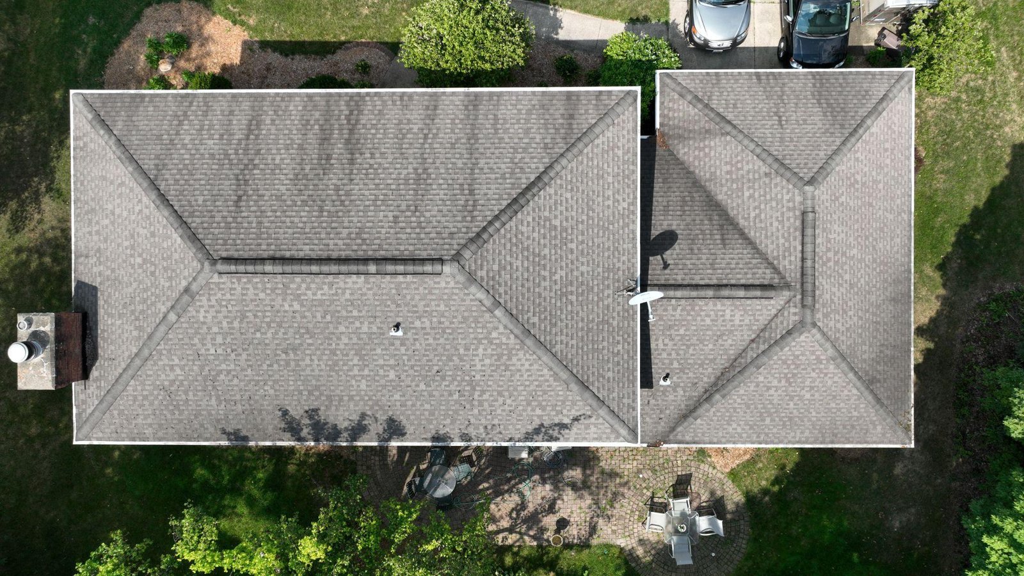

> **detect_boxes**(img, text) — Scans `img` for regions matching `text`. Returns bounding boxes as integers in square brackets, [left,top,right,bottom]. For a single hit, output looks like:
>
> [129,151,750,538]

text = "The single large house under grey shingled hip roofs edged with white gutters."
[10,68,915,447]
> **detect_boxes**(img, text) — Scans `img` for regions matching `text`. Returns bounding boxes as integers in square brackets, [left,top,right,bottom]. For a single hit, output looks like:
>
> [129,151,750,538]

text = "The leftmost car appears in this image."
[682,0,753,54]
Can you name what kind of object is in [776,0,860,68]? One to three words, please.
car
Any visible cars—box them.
[682,0,753,54]
[776,0,860,68]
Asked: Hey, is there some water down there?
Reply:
No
